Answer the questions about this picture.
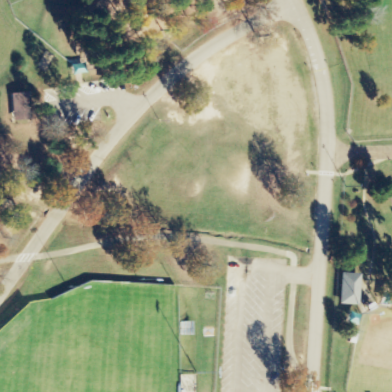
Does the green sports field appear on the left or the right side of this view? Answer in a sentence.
It is on the left.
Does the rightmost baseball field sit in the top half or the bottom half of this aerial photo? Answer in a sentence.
The bottom half of the photo is where the rightmost baseball field is.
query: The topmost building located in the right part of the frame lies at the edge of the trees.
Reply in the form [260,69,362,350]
[338,272,361,304]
